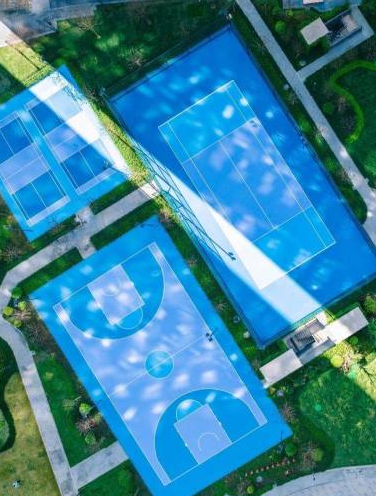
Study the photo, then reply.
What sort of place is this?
sports ground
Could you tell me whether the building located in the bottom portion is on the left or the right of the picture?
right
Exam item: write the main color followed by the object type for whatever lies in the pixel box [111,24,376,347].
blue tennis court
